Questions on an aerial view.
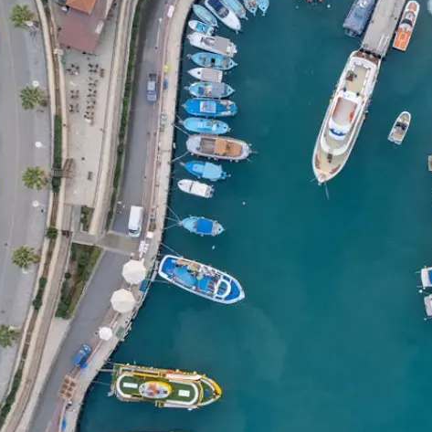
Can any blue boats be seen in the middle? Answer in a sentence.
Yes, a blue boat is visible in the middle.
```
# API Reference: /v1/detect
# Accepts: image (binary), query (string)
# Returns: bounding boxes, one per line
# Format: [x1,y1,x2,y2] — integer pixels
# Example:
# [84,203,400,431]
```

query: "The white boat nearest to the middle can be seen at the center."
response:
[170,178,217,198]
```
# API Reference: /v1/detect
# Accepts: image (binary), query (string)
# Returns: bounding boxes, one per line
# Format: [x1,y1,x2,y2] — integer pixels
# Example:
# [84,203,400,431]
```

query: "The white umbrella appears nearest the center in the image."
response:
[123,260,147,283]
